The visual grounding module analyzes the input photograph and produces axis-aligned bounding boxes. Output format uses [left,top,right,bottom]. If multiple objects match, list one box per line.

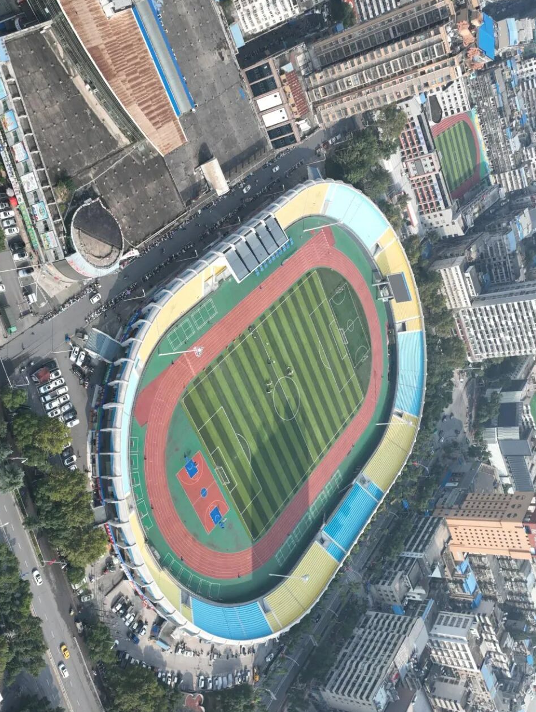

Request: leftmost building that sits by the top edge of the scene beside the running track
[0,0,272,283]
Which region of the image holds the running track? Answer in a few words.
center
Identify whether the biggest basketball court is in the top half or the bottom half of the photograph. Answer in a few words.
bottom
